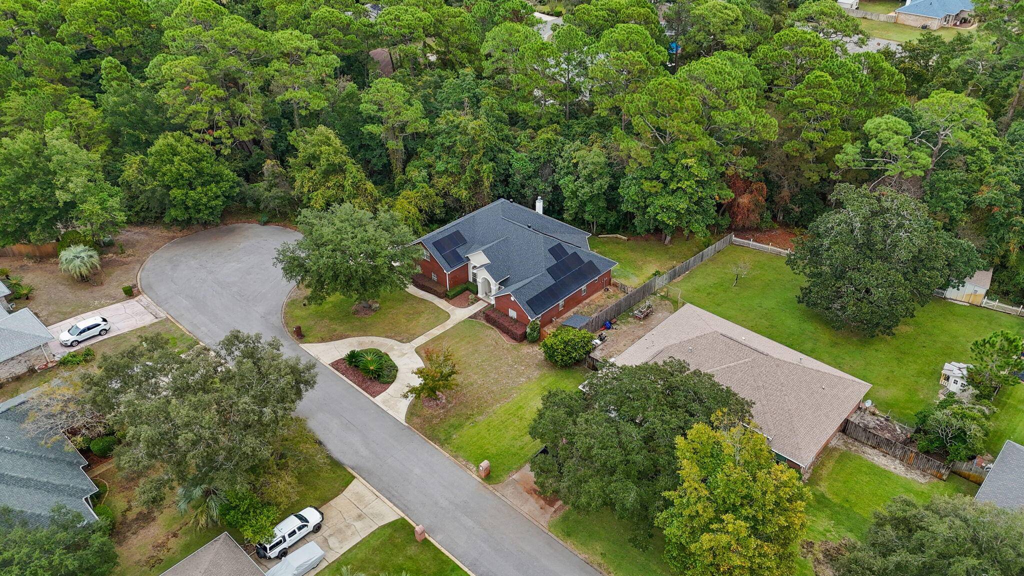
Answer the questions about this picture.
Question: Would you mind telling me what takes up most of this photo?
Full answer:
Most of the picture is covered by trees.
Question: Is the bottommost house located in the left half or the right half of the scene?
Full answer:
You can find the bottommost house on the left side of the picture.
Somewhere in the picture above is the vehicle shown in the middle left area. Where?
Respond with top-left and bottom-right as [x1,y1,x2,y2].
[58,316,111,346]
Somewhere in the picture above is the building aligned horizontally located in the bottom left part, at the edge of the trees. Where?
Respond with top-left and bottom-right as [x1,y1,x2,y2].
[160,531,265,576]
